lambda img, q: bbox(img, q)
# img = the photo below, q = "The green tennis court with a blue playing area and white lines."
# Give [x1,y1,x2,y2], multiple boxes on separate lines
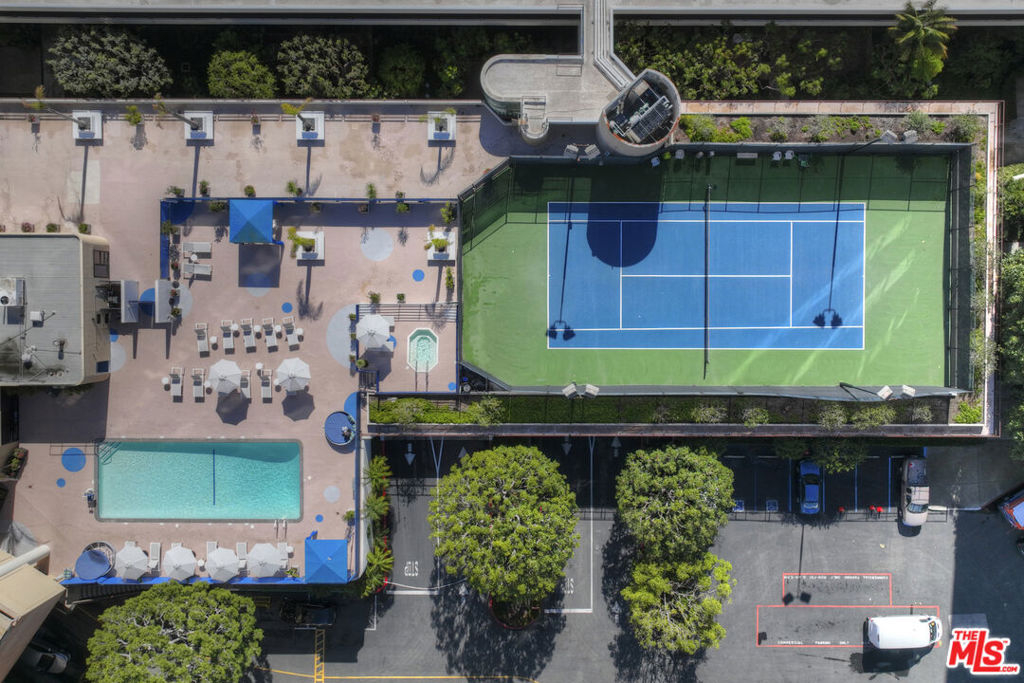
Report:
[461,153,951,386]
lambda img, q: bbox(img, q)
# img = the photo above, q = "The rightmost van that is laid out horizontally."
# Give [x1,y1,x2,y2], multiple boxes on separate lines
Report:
[866,613,942,646]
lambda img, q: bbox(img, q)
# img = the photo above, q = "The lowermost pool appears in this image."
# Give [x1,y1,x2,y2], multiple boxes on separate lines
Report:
[85,435,310,529]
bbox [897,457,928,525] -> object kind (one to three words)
truck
